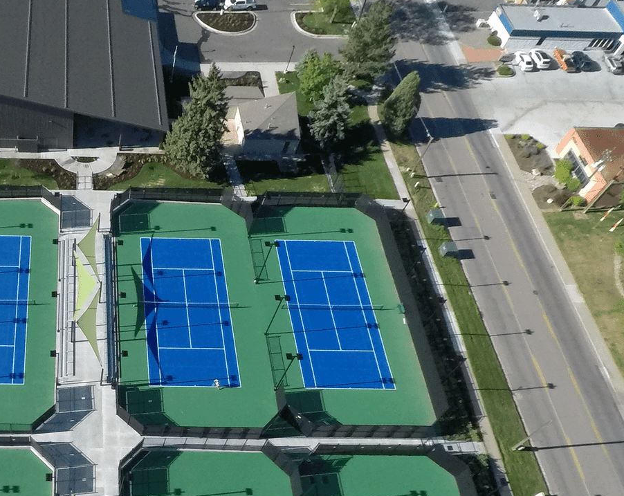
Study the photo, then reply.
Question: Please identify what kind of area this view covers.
sports ground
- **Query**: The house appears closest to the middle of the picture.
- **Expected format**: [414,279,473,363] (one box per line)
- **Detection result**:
[215,86,302,153]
